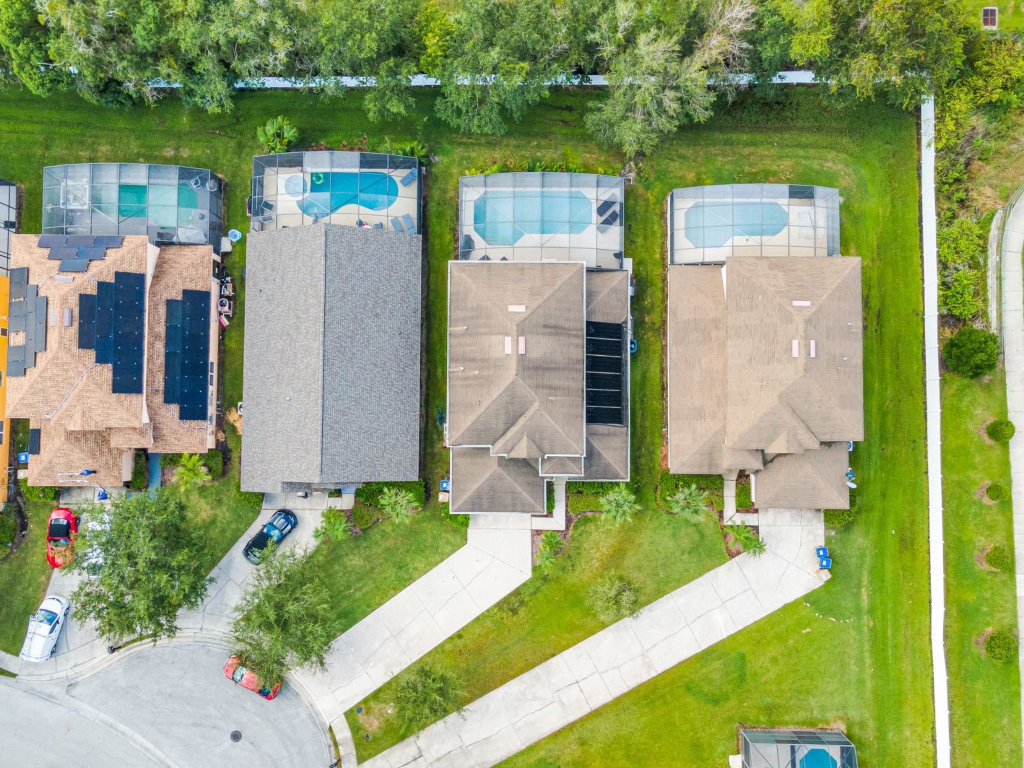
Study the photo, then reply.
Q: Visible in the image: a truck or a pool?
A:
pool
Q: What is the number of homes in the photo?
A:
four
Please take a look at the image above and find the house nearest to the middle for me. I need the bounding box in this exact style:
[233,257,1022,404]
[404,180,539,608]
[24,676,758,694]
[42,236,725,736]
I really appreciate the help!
[446,260,631,514]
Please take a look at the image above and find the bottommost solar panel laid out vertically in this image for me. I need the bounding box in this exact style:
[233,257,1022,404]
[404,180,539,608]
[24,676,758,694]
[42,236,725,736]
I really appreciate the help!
[28,429,40,454]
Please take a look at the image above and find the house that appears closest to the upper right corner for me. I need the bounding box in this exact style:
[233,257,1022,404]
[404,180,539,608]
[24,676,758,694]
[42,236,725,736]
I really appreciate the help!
[667,255,864,509]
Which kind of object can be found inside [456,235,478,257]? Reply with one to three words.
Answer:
umbrella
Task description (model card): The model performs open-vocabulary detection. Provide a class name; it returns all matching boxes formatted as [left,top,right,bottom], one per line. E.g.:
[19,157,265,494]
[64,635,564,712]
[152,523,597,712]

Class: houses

[5,233,221,487]
[446,260,631,514]
[667,255,864,509]
[240,224,422,493]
